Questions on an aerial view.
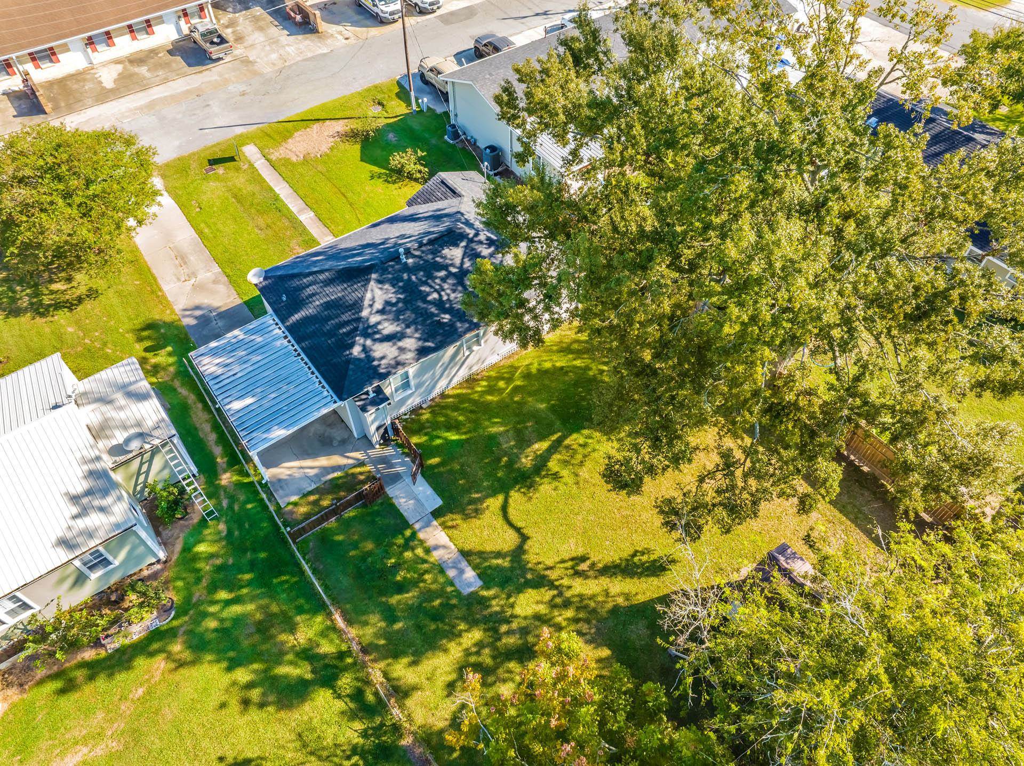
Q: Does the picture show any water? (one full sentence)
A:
No, there is no water in the image.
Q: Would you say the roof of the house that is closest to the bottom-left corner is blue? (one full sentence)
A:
No, from above the roof of the house that is closest to the bottom-left corner looks white.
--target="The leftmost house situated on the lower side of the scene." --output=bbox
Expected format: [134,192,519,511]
[0,349,205,648]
